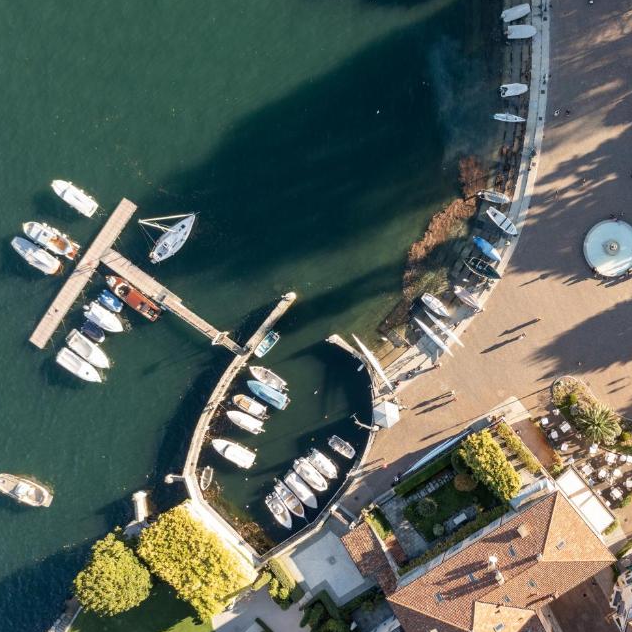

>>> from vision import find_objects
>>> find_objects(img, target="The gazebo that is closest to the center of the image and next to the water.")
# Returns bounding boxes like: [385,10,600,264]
[374,399,401,427]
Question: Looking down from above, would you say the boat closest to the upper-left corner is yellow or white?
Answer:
white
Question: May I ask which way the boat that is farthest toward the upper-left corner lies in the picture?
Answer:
diagonally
